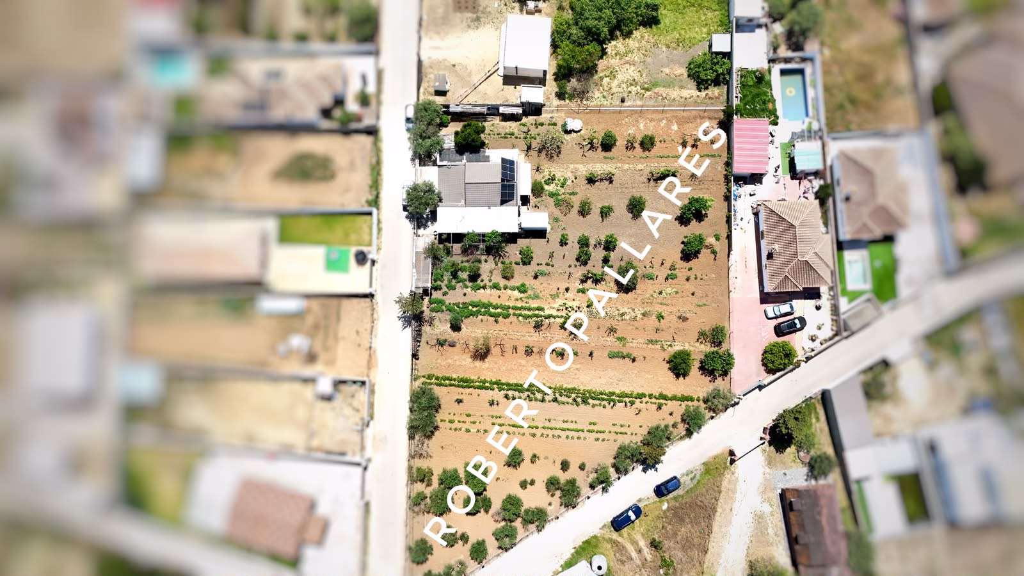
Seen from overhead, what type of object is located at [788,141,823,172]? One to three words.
building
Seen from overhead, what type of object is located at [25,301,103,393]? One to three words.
house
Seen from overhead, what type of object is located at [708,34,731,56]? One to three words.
shed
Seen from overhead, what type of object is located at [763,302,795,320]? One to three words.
car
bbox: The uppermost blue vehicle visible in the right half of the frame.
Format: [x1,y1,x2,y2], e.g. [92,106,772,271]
[653,474,681,497]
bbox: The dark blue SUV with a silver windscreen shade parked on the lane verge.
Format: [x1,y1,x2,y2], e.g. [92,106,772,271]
[610,504,641,530]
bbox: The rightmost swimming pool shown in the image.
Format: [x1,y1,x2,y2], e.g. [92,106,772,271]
[844,250,872,293]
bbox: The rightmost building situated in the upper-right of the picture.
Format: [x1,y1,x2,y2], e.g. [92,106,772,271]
[940,37,1024,187]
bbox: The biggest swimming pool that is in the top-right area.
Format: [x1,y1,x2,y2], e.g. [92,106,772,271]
[772,61,817,131]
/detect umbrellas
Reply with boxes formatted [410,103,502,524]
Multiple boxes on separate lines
[355,250,369,264]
